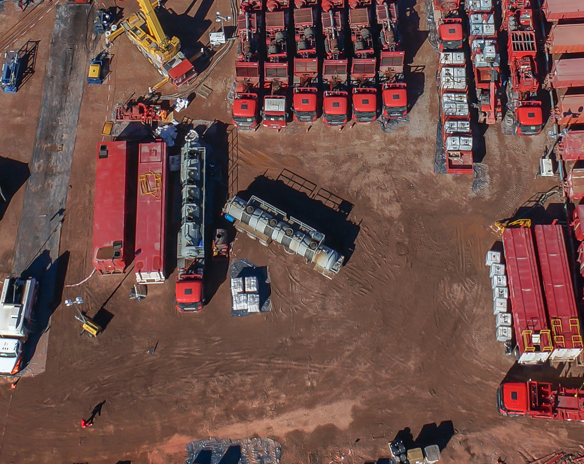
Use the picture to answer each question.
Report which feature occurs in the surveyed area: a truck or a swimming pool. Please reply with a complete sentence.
The one in the frame is a truck.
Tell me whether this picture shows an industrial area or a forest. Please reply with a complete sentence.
This image shows an industrial area.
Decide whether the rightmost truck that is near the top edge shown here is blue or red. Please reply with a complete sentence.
The rightmost truck that is near the top edge looks red in the image.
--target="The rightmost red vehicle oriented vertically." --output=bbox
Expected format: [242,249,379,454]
[505,0,550,137]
